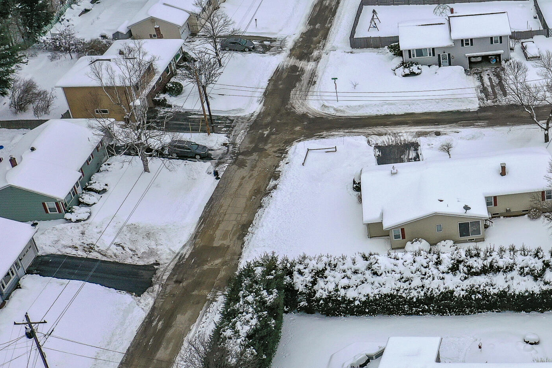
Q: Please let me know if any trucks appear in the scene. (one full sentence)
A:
No, the scene contains no truck.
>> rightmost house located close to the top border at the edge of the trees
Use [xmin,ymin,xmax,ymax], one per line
[399,10,513,69]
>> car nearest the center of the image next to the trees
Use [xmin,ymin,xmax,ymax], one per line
[165,142,208,161]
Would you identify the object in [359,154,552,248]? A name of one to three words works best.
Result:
house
